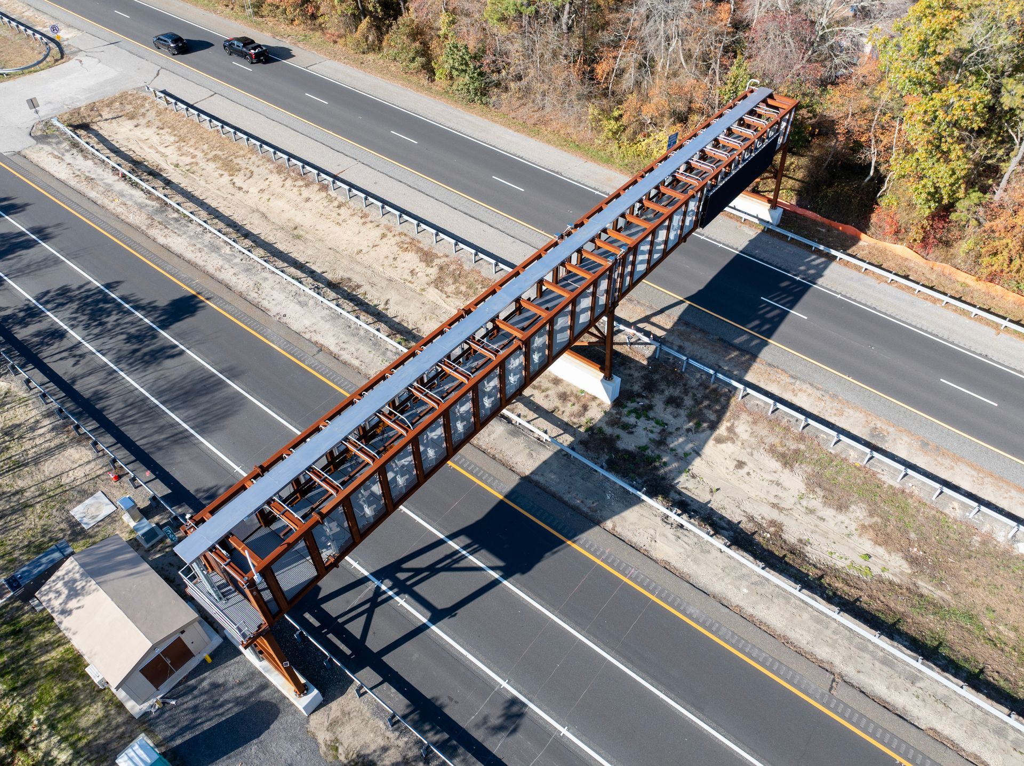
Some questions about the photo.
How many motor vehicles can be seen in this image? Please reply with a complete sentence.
My tally gives 2 motor vehicles in this view.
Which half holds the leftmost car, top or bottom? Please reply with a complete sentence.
It is in the top half that the leftmost car appears.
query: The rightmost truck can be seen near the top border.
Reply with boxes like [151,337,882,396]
[220,34,270,63]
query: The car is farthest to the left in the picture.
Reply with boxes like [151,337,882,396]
[152,29,190,54]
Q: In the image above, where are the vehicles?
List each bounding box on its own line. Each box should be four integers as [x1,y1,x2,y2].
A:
[220,34,270,63]
[152,29,190,54]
